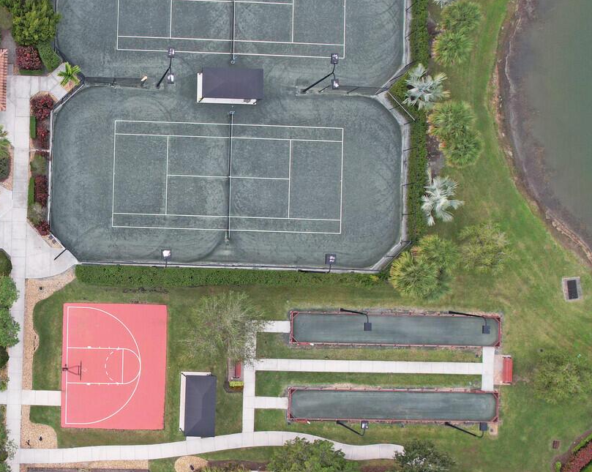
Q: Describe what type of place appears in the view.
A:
sports ground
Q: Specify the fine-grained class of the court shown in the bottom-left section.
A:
basketball court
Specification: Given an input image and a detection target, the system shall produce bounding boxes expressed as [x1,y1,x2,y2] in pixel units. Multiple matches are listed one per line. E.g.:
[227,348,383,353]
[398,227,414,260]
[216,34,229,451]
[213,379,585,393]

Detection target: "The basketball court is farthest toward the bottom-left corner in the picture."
[61,303,167,430]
